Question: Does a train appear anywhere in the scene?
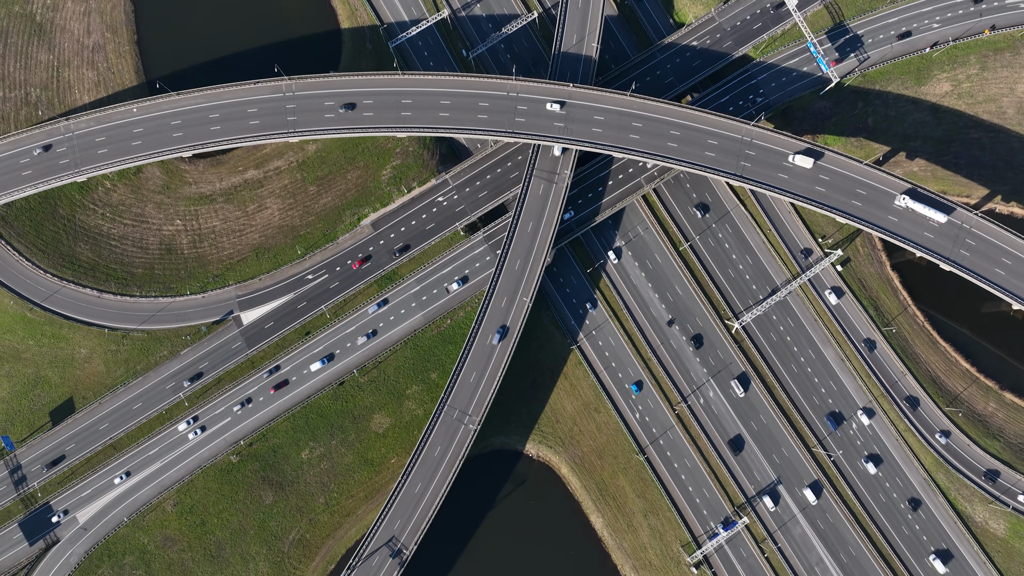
No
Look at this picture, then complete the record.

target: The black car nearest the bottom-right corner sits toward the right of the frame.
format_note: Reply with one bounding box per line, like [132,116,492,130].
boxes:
[981,471,997,485]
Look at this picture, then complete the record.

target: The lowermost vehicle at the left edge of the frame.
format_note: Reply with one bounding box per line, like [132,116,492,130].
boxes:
[49,510,67,524]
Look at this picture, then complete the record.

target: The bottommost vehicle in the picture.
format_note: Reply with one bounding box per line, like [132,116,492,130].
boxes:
[928,555,946,574]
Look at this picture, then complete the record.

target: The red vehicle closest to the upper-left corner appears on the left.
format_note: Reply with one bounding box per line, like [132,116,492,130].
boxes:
[353,257,368,269]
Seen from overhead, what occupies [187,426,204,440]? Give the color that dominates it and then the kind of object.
white car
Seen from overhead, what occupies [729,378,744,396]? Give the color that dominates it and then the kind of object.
white vehicle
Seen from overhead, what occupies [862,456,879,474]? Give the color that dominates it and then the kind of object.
white vehicle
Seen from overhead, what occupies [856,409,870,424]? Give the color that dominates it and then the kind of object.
white car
